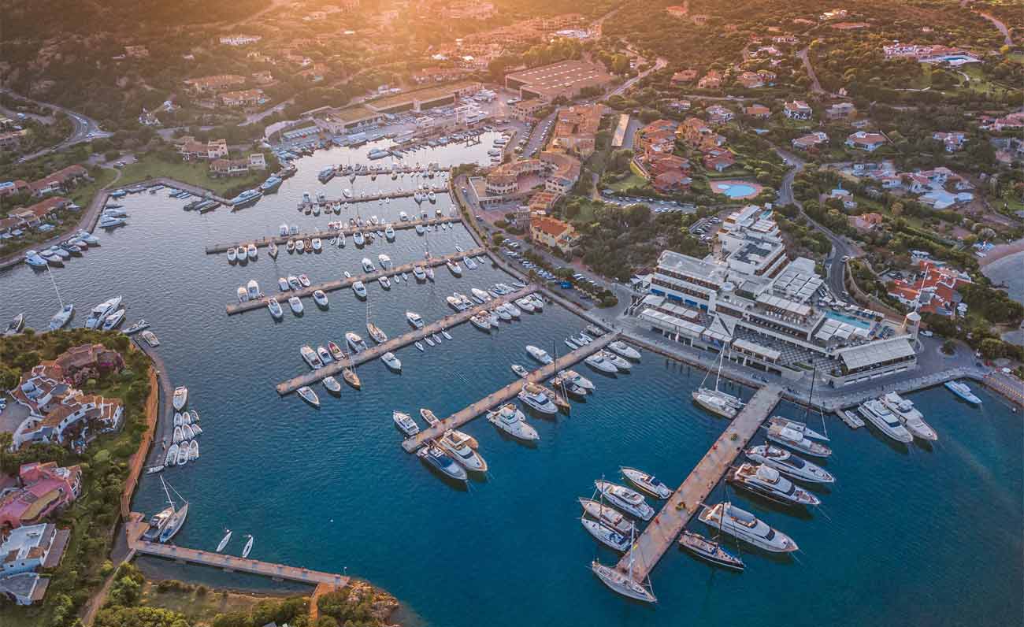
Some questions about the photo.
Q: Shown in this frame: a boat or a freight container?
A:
boat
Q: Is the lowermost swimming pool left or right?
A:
right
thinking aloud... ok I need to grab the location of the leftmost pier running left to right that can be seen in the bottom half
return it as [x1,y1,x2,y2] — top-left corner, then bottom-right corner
[139,542,342,589]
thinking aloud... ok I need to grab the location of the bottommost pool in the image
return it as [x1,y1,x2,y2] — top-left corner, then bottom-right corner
[825,310,870,331]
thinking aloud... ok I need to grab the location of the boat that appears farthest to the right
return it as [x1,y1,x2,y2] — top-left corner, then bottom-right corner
[941,381,981,405]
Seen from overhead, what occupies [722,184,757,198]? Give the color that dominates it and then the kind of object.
blue swimming pool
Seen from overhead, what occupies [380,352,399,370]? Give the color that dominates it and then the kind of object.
white boat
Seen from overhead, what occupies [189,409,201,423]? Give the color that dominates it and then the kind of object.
gray boat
